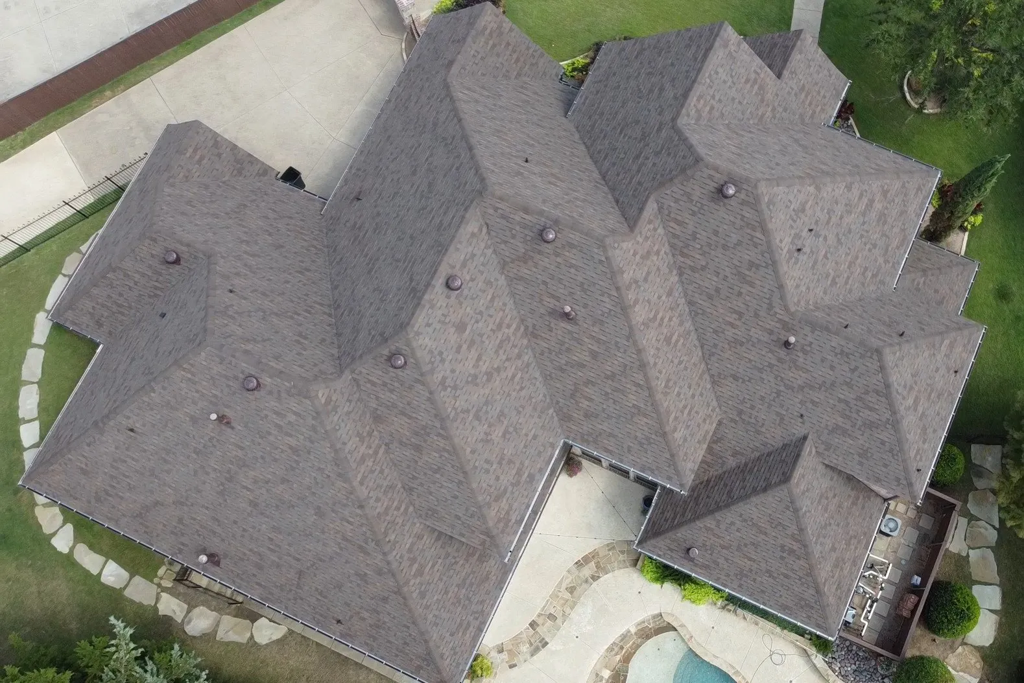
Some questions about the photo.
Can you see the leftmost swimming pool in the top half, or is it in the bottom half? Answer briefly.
bottom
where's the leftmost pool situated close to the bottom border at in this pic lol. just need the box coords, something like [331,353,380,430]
[588,612,754,683]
